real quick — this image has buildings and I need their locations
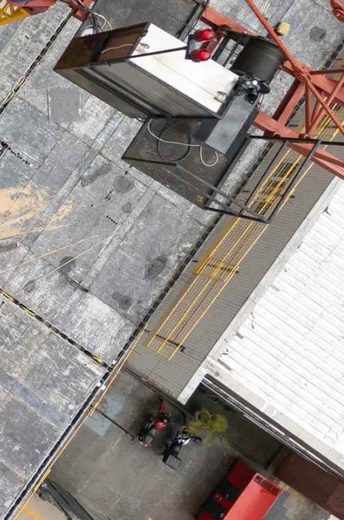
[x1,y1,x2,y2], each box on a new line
[161,168,344,507]
[0,0,344,520]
